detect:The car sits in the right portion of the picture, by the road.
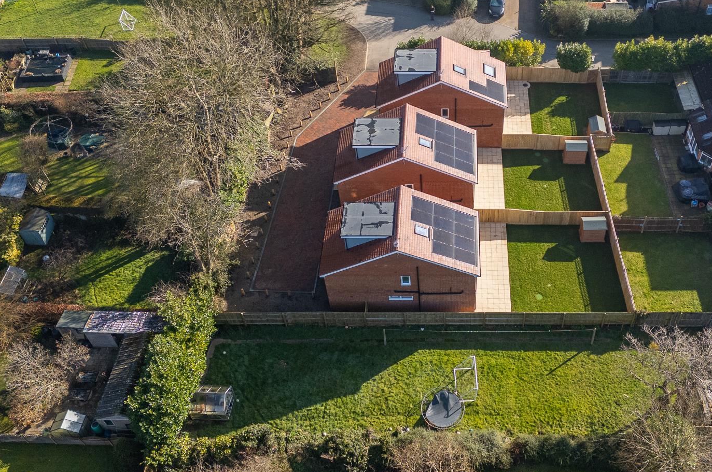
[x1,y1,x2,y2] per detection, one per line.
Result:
[488,0,506,17]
